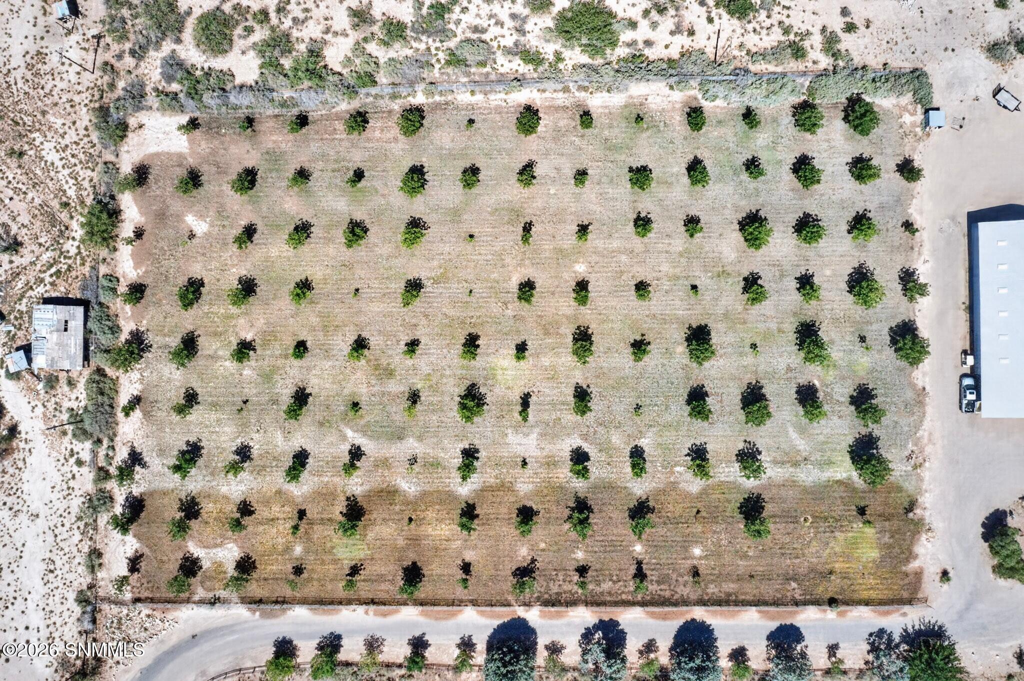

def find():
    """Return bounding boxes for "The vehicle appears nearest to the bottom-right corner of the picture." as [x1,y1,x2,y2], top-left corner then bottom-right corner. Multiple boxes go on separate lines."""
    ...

[958,374,978,414]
